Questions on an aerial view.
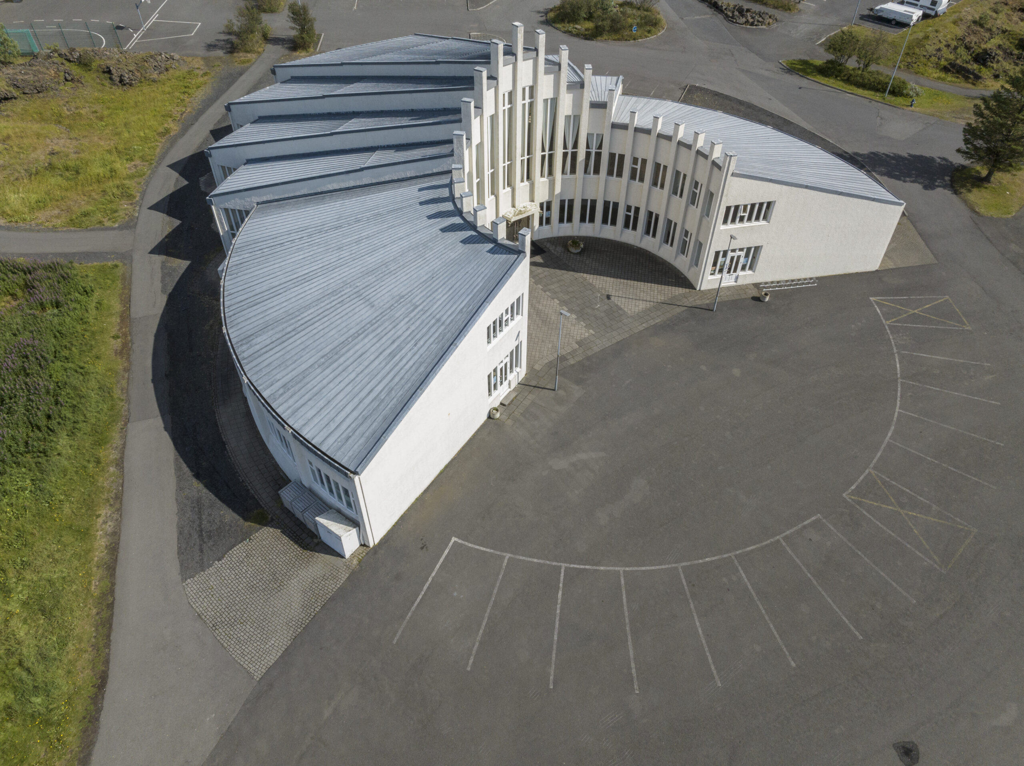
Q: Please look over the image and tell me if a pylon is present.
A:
No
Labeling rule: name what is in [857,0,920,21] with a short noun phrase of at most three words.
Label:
trailer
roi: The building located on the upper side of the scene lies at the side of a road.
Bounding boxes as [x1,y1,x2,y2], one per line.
[206,21,907,545]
